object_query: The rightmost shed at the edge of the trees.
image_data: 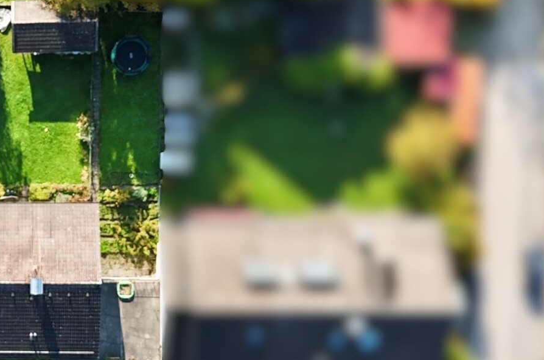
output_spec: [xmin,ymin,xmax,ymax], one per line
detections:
[443,61,481,146]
